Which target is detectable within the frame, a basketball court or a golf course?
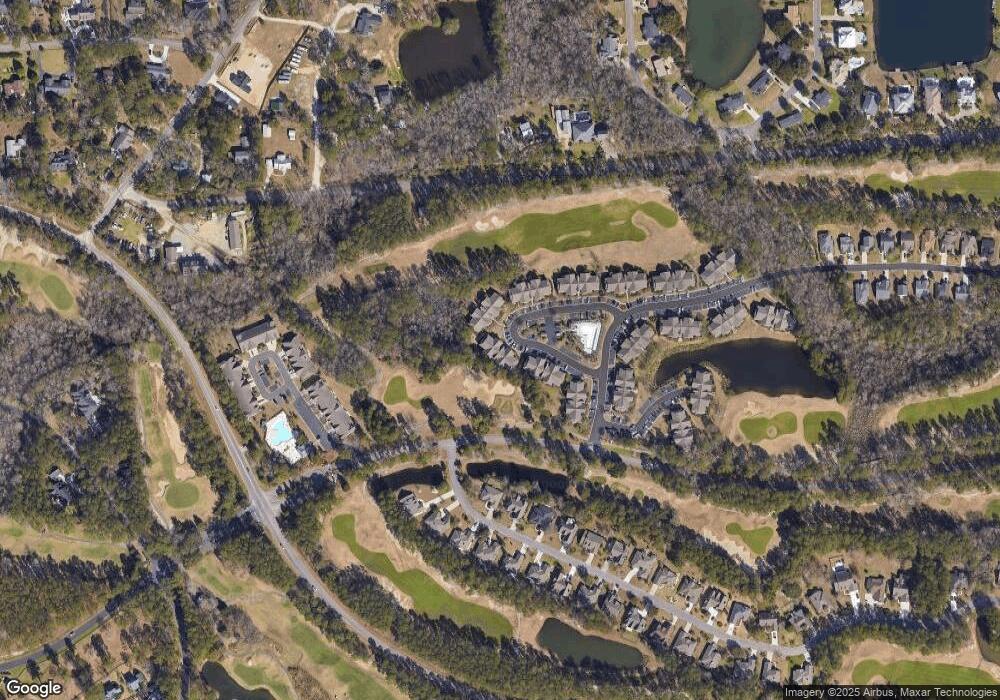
golf course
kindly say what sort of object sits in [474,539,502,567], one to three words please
house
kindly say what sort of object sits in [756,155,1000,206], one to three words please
golf course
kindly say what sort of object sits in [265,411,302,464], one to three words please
swimming pool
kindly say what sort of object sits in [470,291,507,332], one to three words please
building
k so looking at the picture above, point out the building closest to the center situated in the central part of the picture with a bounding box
[479,334,520,368]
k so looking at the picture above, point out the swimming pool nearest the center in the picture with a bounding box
[572,320,602,354]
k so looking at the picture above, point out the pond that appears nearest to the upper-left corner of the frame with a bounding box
[402,1,497,99]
